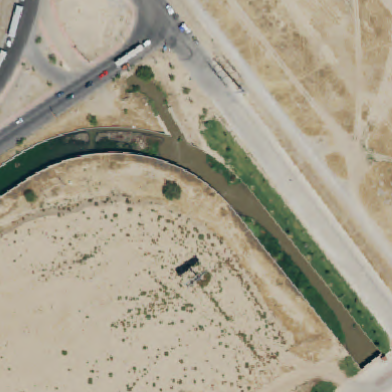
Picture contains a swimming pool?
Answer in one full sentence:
No, no swimming pool is visible in the scene.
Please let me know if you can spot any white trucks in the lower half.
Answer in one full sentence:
No, there is no white truck in the lower half.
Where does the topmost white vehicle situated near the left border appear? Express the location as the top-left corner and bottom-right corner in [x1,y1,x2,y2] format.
[4,4,22,48]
